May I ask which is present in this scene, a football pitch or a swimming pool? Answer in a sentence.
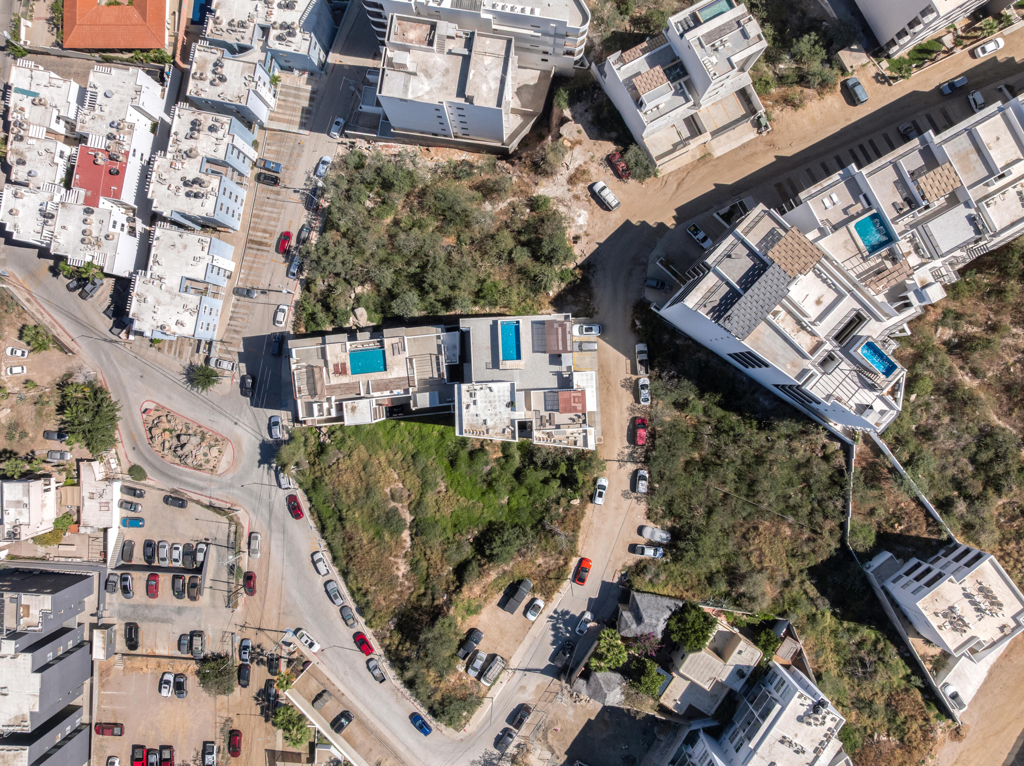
Of the two, only a swimming pool appears.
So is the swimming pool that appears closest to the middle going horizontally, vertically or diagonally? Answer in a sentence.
In this picture, the swimming pool that appears closest to the middle is oriented vertically.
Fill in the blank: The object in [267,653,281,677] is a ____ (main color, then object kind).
black car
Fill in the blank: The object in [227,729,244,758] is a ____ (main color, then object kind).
red car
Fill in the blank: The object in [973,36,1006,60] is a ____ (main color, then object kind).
white car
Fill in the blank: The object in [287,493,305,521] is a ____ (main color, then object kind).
red car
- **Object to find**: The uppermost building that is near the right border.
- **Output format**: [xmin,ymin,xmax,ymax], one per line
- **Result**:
[868,0,989,58]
